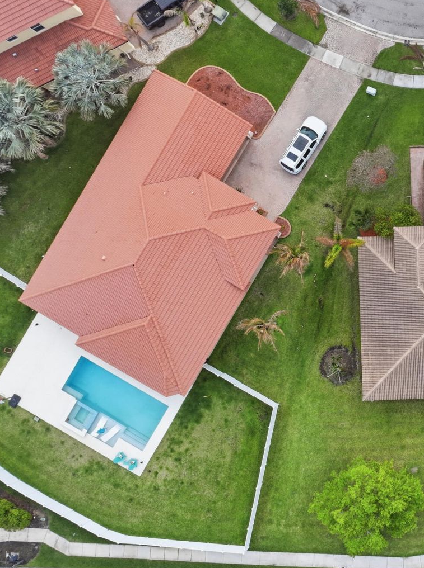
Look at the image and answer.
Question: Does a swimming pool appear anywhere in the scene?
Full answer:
Yes, a swimming pool can be made out from above.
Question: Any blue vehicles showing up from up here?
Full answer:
No, I find no blue vehicle anywhere in the image.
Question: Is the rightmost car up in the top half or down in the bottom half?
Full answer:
It is in the top half that the rightmost car appears.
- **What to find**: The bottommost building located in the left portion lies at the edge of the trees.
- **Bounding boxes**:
[19,69,284,397]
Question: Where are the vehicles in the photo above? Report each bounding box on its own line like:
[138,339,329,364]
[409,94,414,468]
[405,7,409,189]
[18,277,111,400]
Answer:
[134,0,198,31]
[280,116,325,176]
